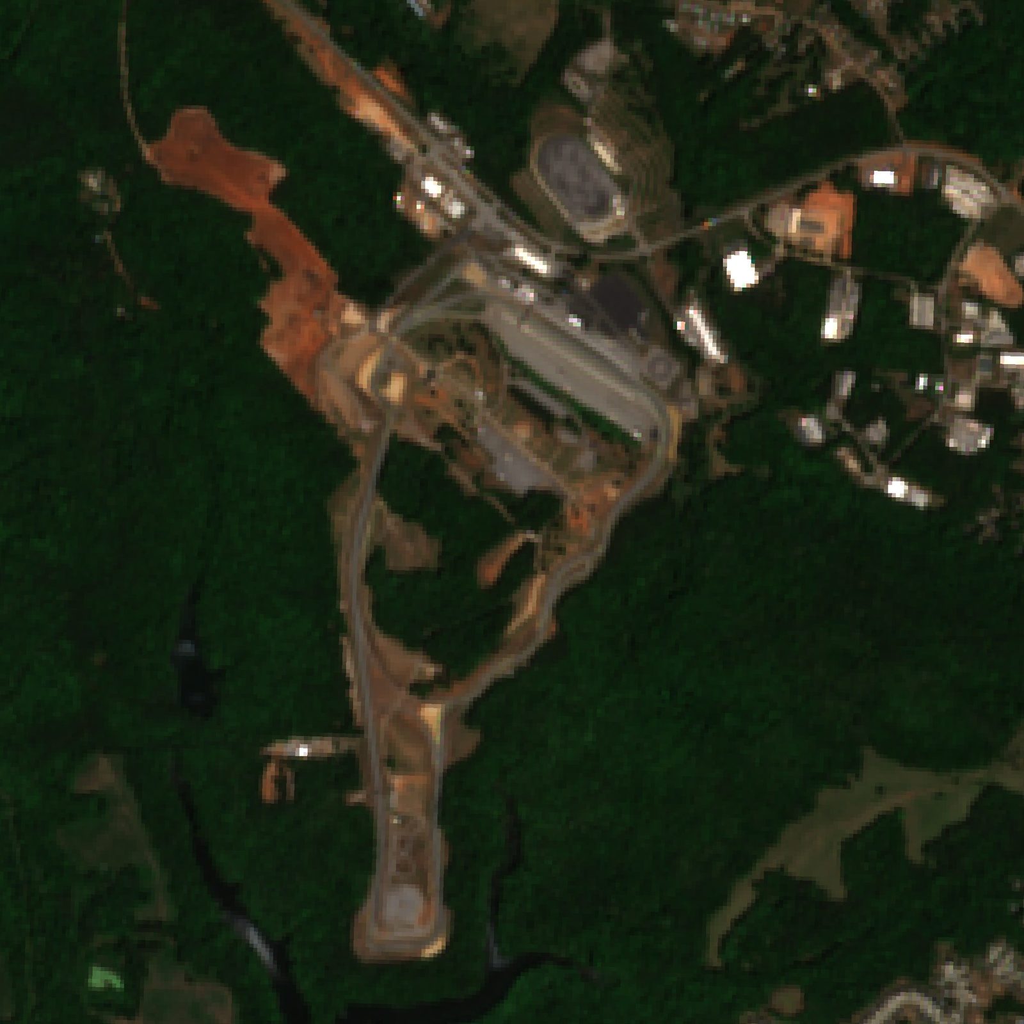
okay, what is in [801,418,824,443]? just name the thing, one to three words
building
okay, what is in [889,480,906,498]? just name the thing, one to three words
building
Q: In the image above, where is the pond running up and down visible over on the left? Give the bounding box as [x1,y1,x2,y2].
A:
[173,575,225,717]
